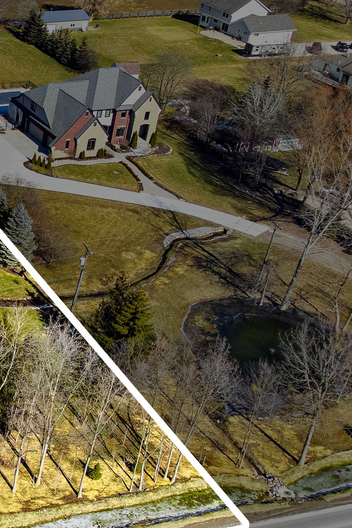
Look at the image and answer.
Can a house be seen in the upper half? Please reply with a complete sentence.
Yes, looking in the upper half, one can make out a house.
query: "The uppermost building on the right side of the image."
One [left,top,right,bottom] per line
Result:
[194,0,302,41]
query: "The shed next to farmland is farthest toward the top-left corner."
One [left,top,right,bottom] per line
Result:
[32,8,93,34]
